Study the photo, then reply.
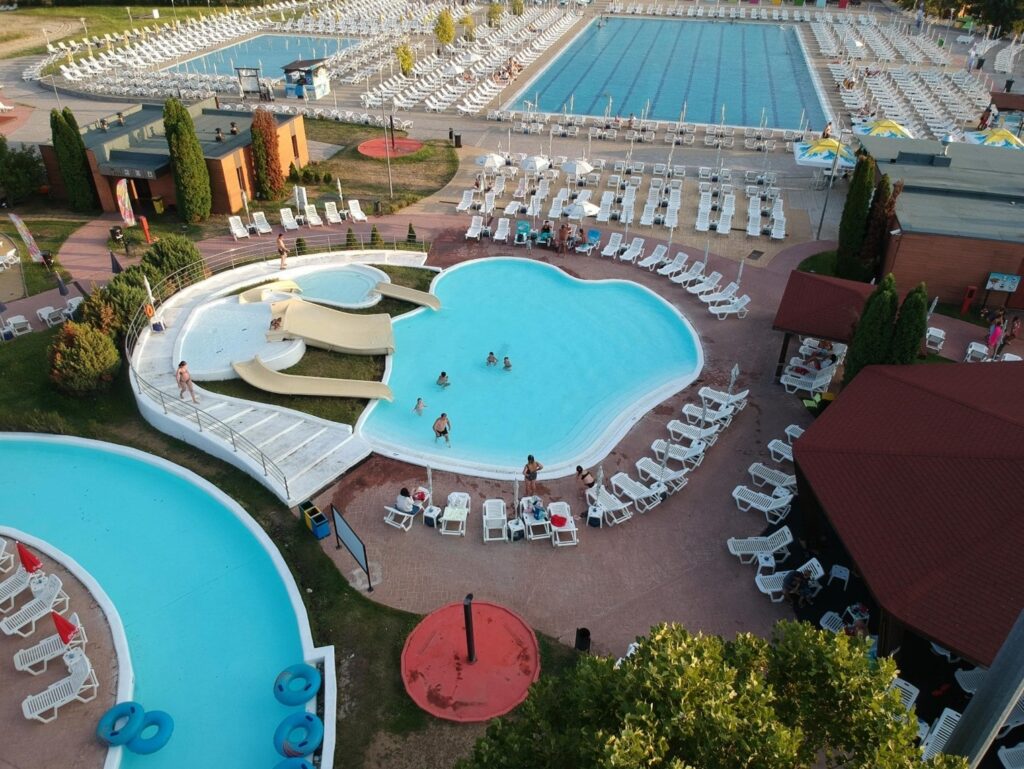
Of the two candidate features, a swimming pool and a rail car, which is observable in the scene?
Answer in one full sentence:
Visible in the photo is a swimming pool.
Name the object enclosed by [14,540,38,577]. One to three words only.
umbrella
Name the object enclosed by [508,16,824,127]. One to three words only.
swimming pool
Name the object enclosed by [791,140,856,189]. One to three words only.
umbrella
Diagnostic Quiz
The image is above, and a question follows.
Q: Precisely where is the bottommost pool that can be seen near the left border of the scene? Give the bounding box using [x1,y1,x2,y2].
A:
[0,438,306,769]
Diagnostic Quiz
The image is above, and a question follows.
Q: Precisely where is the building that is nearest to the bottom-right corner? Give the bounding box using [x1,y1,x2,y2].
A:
[794,374,1024,691]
